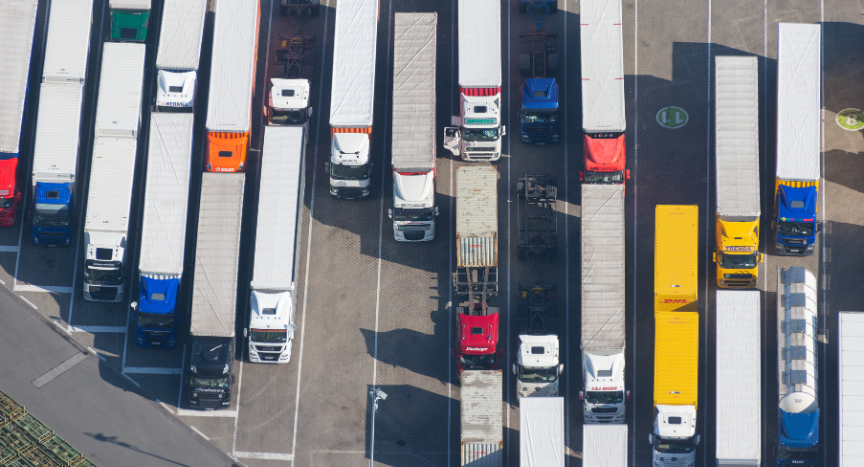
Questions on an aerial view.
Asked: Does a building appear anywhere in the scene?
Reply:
No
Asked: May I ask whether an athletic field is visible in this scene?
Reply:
No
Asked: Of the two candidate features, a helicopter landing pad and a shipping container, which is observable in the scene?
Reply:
shipping container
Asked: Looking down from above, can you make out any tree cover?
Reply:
No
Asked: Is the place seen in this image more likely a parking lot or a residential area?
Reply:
parking lot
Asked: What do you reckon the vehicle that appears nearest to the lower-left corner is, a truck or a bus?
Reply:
truck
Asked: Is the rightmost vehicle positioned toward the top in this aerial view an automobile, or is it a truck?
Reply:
truck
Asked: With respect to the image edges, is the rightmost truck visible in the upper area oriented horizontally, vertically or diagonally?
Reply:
vertically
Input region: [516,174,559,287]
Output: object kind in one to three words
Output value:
trailer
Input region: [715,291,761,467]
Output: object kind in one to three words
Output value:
truck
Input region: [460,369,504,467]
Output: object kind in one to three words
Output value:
shipping container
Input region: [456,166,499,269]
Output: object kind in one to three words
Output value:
shipping container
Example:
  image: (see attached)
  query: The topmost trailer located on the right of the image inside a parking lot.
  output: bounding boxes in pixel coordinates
[518,0,559,34]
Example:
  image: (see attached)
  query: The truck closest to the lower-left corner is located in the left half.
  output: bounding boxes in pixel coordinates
[77,232,130,301]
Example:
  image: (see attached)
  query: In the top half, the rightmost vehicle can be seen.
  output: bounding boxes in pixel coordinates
[770,22,824,254]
